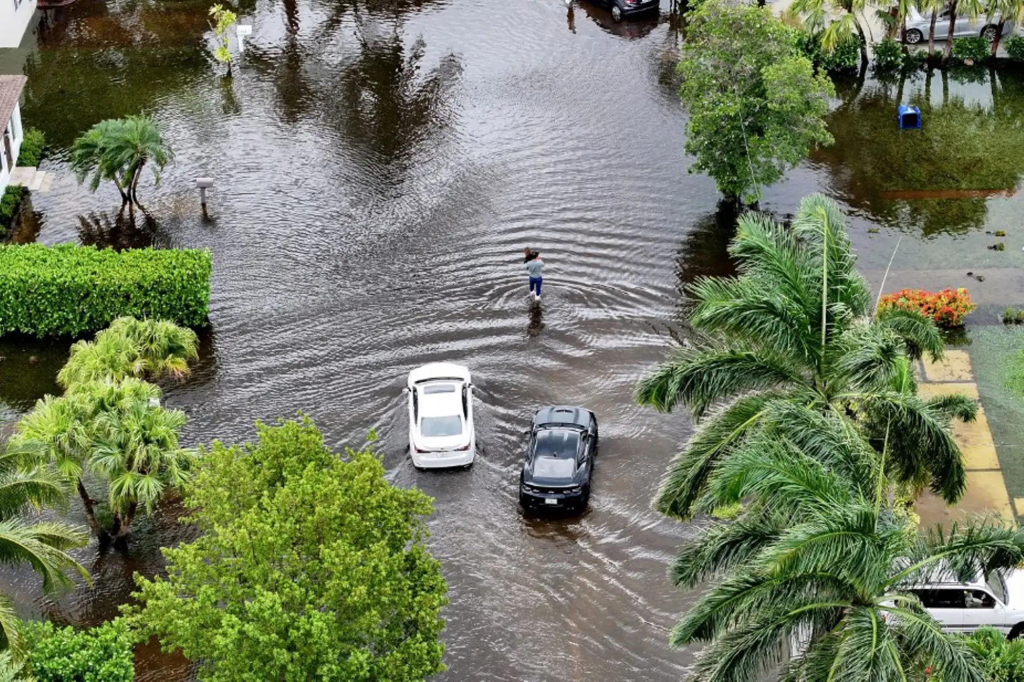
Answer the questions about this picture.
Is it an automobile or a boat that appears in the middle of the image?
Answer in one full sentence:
Visible in the middle of the image is an automobile.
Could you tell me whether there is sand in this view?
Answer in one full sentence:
No, there is no sand in the image.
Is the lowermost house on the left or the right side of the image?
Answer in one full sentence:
You can find the lowermost house on the left side of the picture.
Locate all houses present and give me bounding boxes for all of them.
[0,77,82,197]
[0,0,37,47]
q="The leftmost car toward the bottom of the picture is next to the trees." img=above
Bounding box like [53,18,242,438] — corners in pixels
[402,358,474,465]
